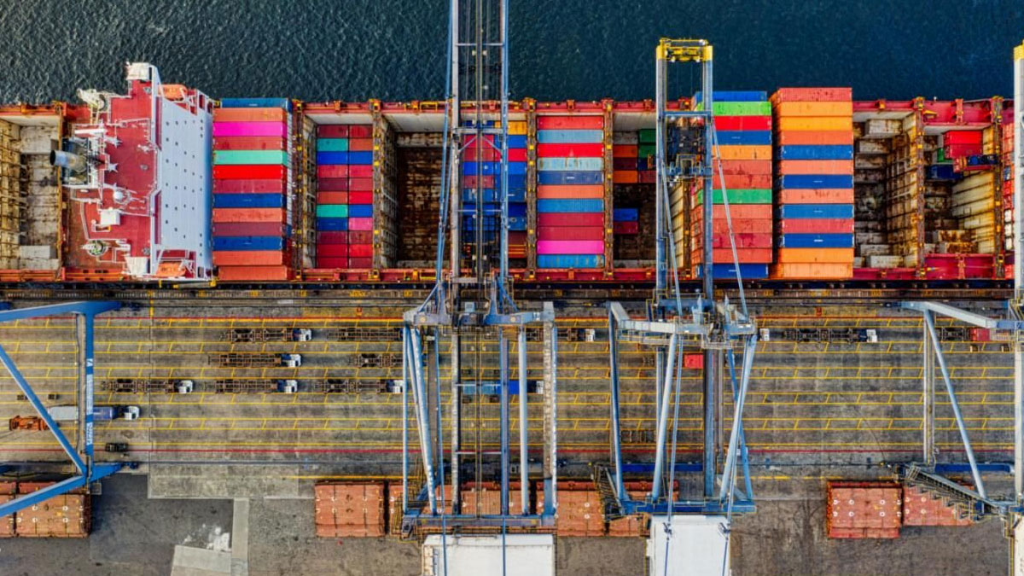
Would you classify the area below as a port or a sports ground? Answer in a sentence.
The area seen from above is a port.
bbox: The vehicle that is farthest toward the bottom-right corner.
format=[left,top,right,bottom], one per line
[937,328,1010,342]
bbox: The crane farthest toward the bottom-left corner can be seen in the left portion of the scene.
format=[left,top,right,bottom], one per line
[0,302,145,520]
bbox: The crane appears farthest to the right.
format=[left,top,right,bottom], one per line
[882,41,1024,576]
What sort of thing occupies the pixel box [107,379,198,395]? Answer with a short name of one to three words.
vehicle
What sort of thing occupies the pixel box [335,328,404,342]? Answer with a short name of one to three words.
vehicle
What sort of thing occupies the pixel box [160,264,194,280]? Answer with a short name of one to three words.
boat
